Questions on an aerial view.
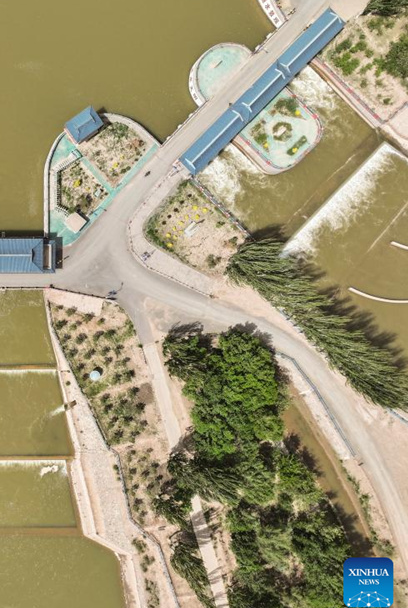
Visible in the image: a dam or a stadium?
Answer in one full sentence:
Visible in the photo is a dam.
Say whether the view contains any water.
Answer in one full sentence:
Yes, there is water in the image.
